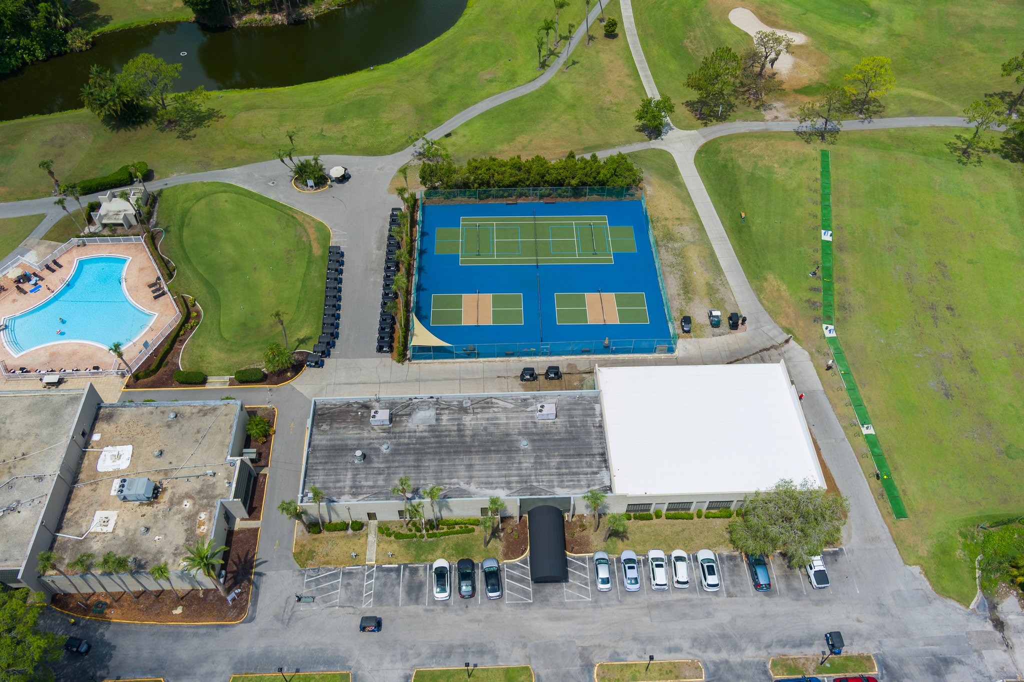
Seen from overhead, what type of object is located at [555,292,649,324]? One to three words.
sports court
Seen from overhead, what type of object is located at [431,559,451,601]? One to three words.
car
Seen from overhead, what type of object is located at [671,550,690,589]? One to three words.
car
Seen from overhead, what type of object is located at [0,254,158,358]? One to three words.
swimming pool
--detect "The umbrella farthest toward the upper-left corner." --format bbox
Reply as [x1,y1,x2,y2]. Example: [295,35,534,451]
[6,267,24,282]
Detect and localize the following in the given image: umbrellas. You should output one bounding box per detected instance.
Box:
[6,267,24,282]
[328,164,345,175]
